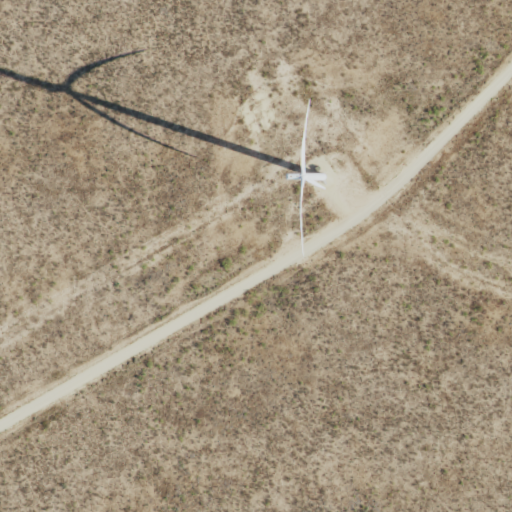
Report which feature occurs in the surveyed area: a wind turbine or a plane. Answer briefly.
wind turbine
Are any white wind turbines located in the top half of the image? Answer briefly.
Yes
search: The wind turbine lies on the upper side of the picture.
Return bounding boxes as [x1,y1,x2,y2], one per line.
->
[287,97,330,256]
